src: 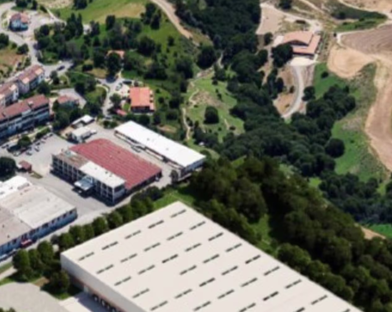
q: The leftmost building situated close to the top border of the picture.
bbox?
[5,13,32,32]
